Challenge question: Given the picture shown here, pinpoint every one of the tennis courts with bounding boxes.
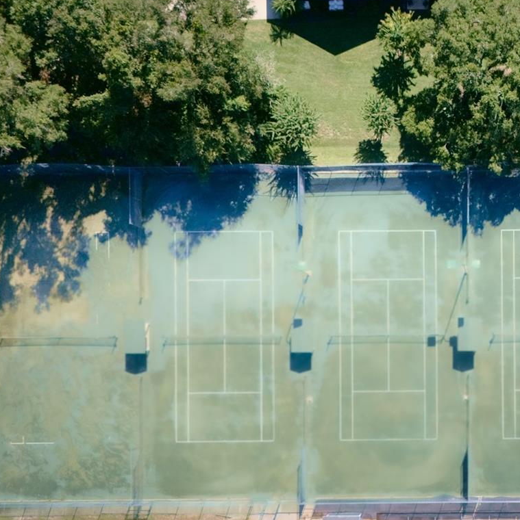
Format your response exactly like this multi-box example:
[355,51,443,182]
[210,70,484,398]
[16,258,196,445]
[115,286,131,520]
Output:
[0,172,141,500]
[303,172,465,500]
[467,172,520,495]
[141,172,303,500]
